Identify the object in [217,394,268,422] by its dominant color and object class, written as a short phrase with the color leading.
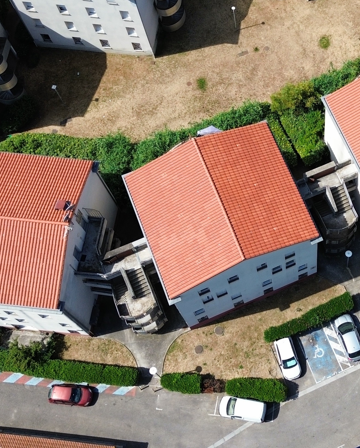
white car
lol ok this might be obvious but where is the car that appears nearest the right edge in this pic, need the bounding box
[333,314,360,364]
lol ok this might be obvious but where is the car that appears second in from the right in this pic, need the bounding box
[272,334,304,384]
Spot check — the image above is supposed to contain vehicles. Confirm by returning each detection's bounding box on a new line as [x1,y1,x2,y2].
[333,314,360,364]
[272,334,304,384]
[46,384,94,407]
[217,394,268,422]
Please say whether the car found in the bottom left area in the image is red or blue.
red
